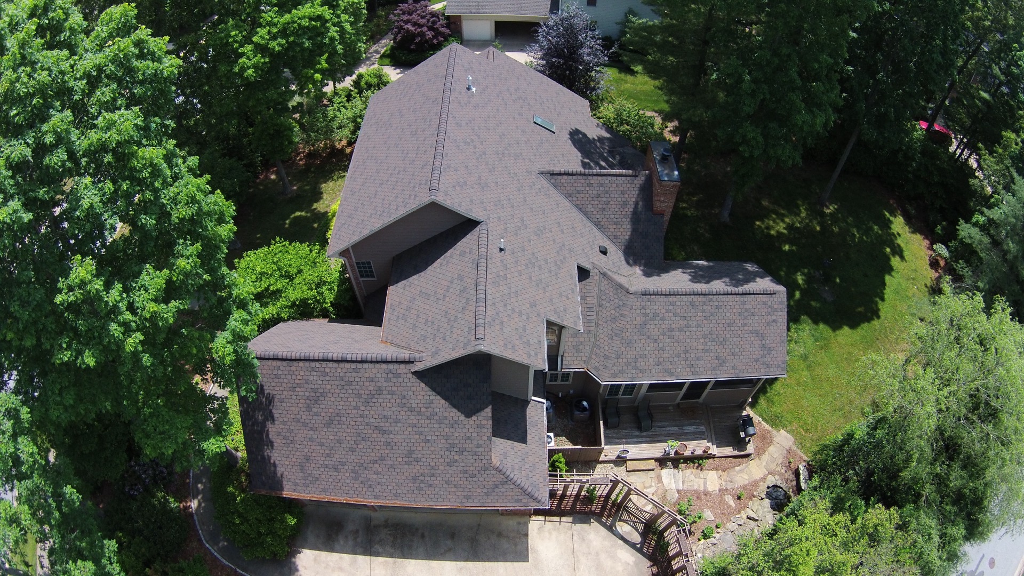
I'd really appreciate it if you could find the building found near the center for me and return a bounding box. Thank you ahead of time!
[247,43,788,515]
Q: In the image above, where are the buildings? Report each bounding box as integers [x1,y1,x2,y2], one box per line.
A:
[442,0,557,41]
[247,43,788,515]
